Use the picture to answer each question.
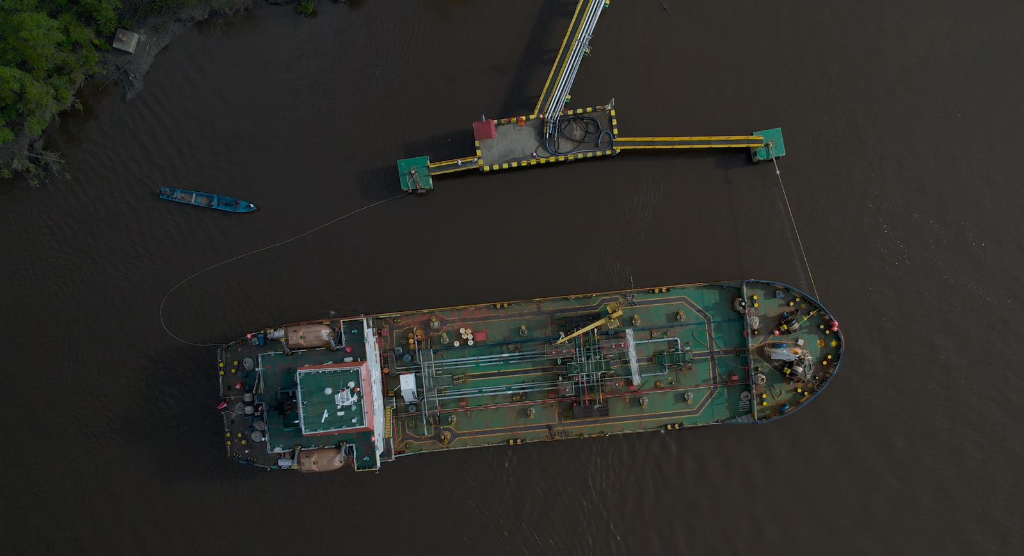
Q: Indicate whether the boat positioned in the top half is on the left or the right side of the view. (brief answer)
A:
left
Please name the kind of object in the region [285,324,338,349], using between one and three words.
boat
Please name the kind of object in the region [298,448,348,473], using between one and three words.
boat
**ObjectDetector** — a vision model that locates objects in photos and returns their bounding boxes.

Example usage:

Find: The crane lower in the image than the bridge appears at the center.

[555,301,626,344]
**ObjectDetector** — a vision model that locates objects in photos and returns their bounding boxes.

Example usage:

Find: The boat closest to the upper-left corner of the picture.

[153,186,259,211]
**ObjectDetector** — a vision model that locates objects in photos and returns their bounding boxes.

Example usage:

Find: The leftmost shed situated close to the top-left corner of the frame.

[114,29,150,59]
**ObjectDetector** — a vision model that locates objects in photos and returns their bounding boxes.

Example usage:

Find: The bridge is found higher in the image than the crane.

[537,0,610,117]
